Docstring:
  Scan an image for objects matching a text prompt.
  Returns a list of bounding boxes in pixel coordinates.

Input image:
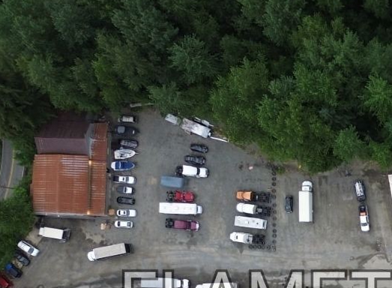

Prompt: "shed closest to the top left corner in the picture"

[34,109,114,162]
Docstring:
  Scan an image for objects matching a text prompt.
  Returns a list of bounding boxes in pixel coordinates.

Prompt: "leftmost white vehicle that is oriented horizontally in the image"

[43,228,76,241]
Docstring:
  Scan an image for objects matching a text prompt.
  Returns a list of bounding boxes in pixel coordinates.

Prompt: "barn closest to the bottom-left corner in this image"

[33,153,111,217]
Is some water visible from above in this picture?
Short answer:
No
